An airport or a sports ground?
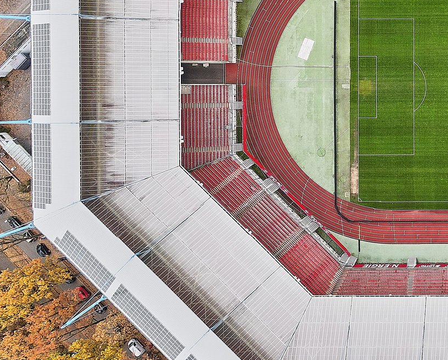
sports ground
